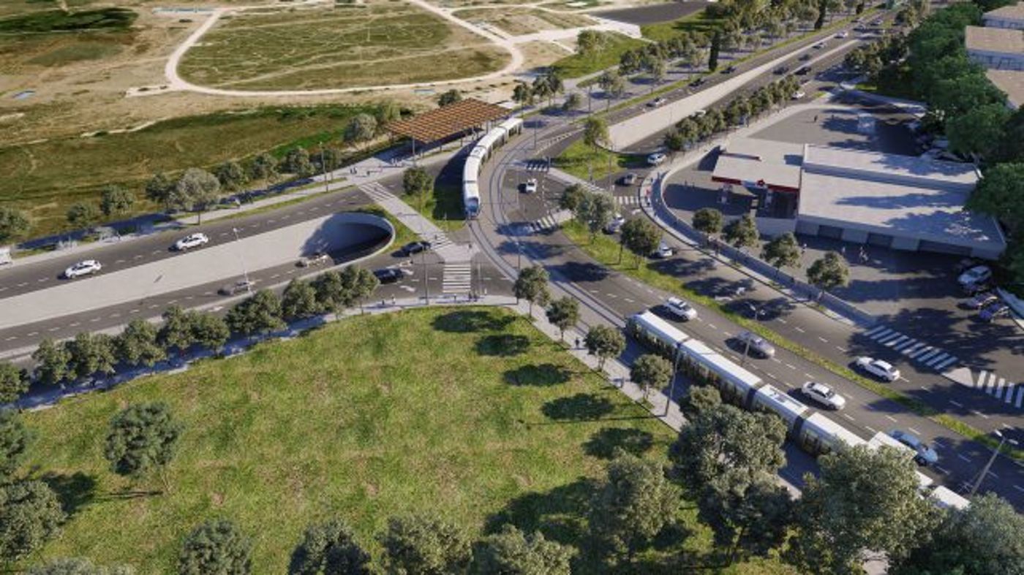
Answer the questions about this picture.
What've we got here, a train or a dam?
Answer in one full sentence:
The image shows a train.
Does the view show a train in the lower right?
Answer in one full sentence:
Yes, you'll find a train in the lower right.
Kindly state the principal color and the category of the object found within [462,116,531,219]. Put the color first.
white train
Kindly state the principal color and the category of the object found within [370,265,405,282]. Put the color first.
black car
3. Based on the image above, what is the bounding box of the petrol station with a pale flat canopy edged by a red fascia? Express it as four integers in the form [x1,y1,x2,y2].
[712,133,804,211]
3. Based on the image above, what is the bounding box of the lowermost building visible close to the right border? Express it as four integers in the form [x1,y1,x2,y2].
[796,137,1004,262]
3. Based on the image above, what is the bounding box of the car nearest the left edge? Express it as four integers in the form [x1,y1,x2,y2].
[62,256,100,277]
